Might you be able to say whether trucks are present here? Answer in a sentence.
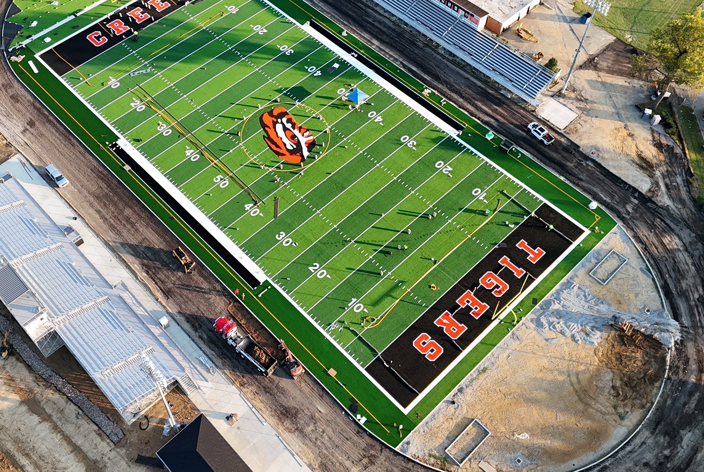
Yes, the image includes a truck.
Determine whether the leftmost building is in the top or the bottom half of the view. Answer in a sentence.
The leftmost building is in the bottom half of the image.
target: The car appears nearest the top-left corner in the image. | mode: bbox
[45,165,67,188]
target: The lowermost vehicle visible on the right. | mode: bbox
[610,312,636,335]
